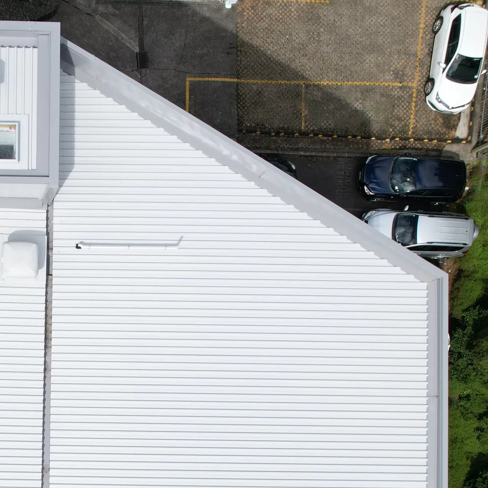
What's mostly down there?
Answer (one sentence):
The bulk of the photo consists of buildings.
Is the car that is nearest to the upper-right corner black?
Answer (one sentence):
No, the car that is nearest to the upper-right corner is white.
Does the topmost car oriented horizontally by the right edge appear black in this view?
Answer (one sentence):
Yes, the topmost car oriented horizontally by the right edge is indeed black.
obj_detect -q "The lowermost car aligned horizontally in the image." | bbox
[360,200,487,259]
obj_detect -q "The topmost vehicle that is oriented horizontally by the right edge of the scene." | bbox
[355,147,479,206]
